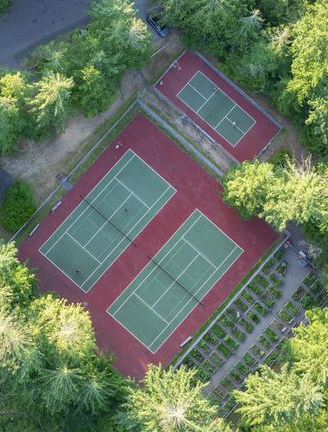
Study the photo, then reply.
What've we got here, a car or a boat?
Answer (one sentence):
This aerial view contains a car.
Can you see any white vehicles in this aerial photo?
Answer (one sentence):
No, no white vehicle can be seen from above.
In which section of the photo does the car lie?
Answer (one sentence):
The car is located in the top region of the scene.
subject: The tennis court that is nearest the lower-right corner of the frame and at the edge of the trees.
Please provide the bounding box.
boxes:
[86,173,281,376]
